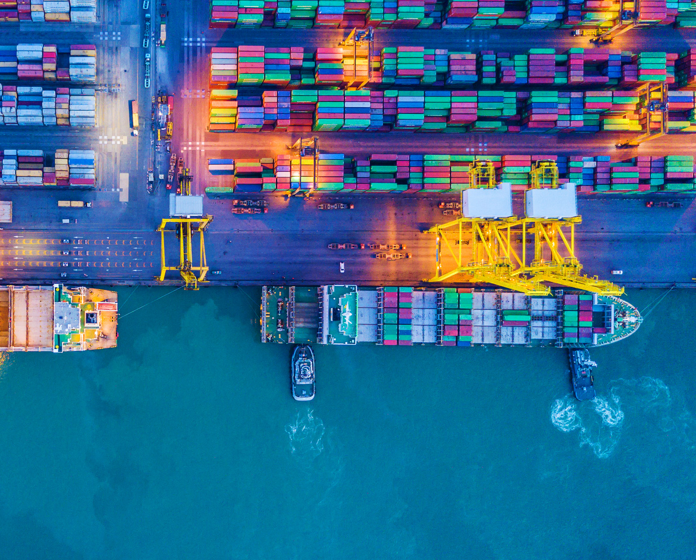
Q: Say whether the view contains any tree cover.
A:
No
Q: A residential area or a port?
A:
port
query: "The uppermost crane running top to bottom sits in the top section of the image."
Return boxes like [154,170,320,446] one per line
[339,24,371,90]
